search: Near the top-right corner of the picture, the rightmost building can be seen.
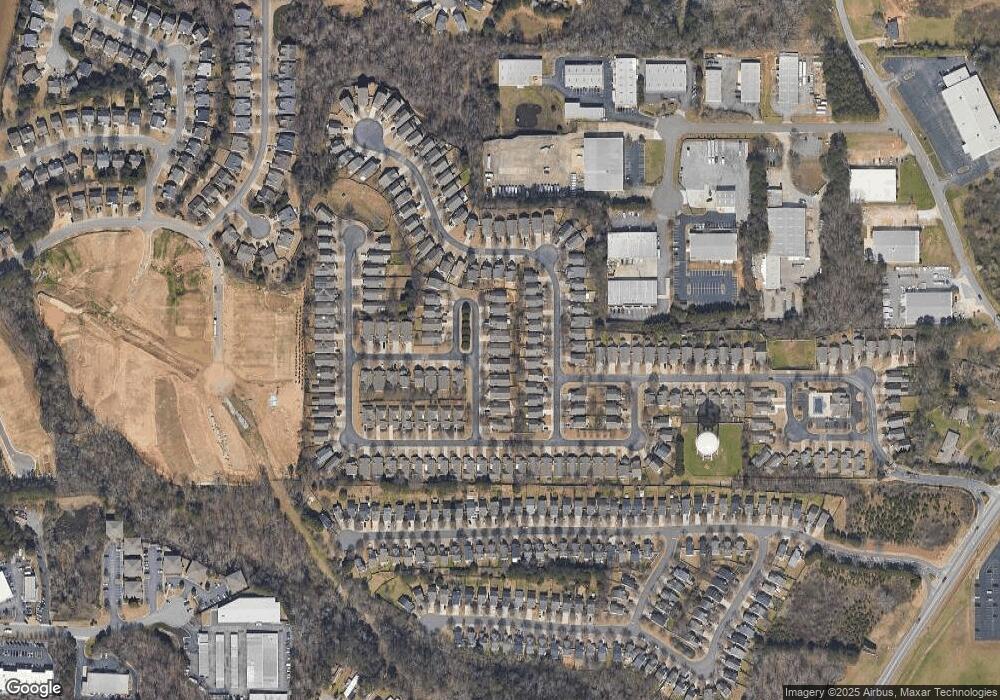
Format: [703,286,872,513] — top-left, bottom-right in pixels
[940,67,1000,160]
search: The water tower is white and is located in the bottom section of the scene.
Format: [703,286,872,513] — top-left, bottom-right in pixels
[695,432,721,462]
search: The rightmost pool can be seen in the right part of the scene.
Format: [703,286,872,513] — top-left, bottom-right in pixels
[809,393,831,417]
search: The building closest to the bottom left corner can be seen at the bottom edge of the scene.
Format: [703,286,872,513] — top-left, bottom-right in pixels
[0,669,54,698]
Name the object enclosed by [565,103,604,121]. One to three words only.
shed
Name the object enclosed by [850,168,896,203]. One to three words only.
building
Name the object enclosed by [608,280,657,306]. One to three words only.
building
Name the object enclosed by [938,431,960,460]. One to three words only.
house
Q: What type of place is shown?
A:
residential area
